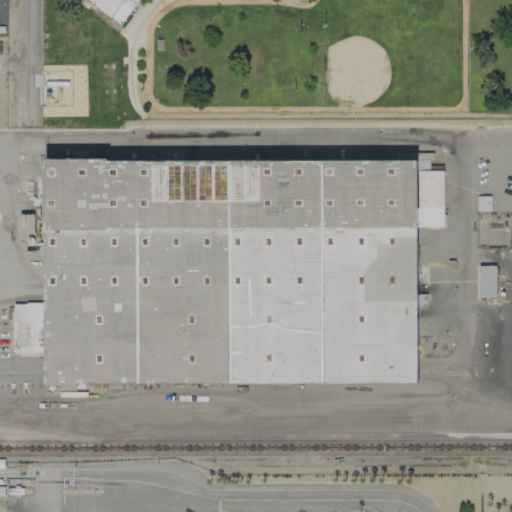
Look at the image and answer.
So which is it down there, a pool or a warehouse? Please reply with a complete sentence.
Of the two, only a warehouse appears.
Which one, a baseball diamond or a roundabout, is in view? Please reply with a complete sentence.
The one in the frame is a baseball diamond.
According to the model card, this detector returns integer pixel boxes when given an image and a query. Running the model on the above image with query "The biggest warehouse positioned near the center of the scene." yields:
[39,158,418,384]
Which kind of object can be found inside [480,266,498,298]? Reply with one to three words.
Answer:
building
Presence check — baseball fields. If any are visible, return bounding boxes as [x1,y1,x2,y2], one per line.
[327,36,392,107]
